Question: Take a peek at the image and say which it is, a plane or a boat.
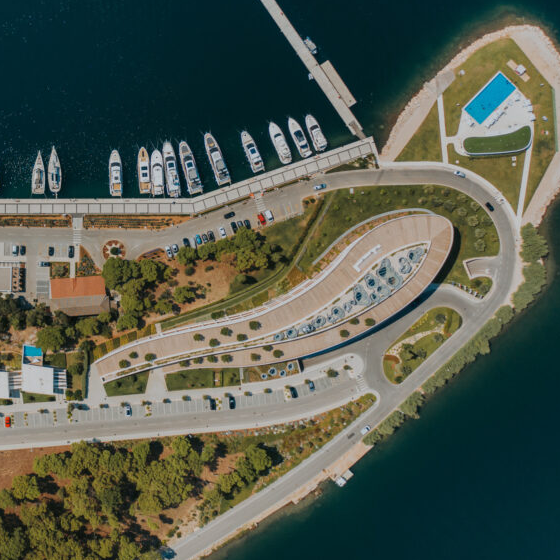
boat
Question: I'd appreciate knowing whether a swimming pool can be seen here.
Yes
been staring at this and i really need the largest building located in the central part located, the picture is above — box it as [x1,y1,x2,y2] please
[95,213,454,383]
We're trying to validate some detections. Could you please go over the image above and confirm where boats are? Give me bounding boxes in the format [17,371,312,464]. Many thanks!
[266,121,293,166]
[158,132,181,198]
[178,139,202,196]
[32,151,45,197]
[109,144,123,198]
[48,140,62,198]
[201,130,231,187]
[305,113,328,153]
[287,117,313,159]
[306,40,314,51]
[242,131,267,174]
[136,143,152,198]
[150,145,164,198]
